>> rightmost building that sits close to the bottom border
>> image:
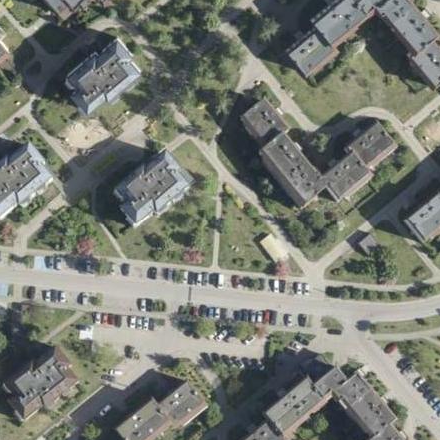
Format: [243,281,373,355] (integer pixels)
[246,368,408,440]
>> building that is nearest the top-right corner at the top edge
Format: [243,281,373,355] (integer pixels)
[289,0,440,95]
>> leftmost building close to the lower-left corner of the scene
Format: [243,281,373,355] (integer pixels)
[2,346,79,422]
